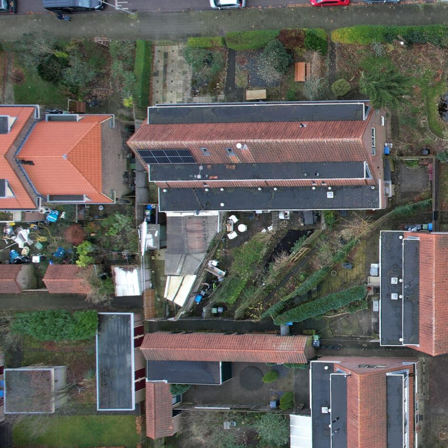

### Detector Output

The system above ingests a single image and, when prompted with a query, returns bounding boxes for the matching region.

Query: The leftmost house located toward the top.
[0,105,71,212]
